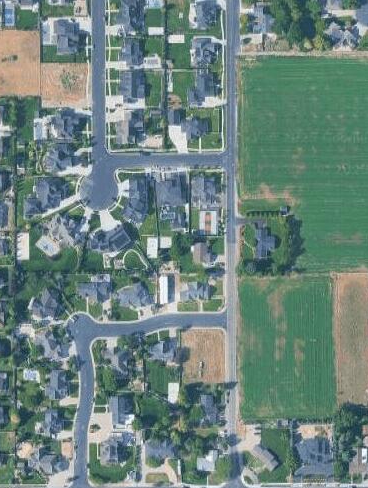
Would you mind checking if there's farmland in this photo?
Yes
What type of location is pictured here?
residential area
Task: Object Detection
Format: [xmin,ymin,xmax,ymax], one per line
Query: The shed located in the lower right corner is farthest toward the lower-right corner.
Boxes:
[349,448,368,474]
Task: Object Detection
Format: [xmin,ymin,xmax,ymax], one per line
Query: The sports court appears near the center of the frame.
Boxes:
[200,211,218,235]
